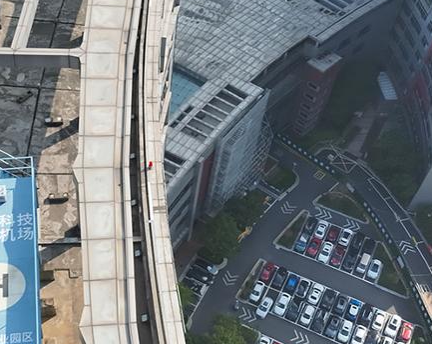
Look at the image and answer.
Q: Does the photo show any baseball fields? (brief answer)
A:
No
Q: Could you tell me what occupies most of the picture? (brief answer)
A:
buildings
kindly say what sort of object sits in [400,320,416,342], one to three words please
car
